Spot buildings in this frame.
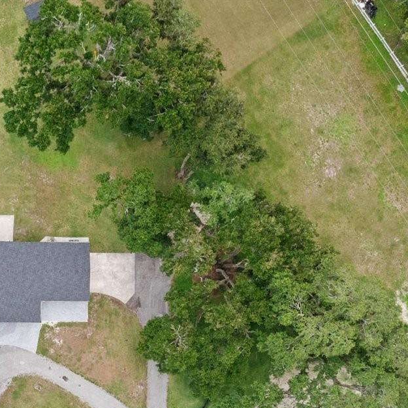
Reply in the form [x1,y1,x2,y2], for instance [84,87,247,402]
[23,0,43,26]
[0,241,91,323]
